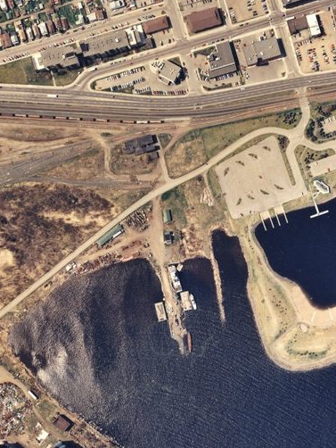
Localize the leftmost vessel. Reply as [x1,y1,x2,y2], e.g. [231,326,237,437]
[154,302,166,322]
